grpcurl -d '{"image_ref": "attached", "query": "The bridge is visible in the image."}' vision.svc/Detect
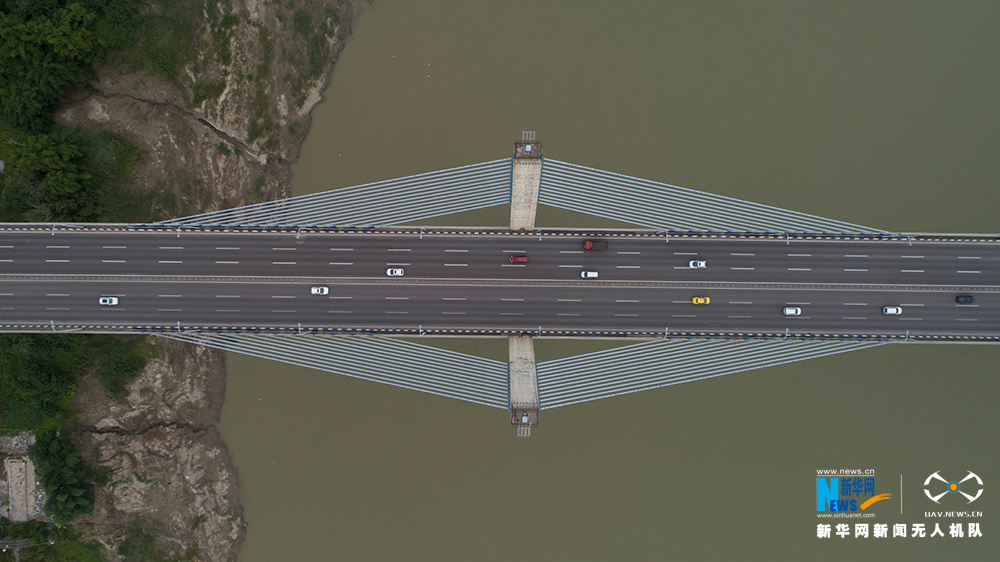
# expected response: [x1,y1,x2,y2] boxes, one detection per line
[0,128,1000,439]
